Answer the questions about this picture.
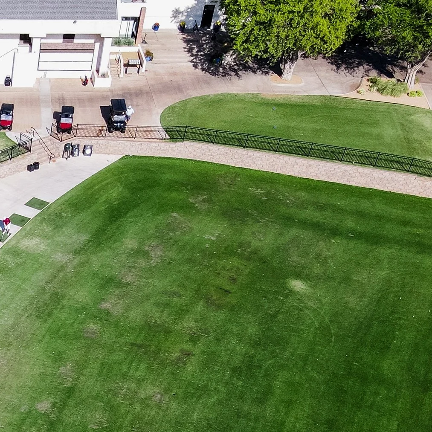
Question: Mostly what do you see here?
grass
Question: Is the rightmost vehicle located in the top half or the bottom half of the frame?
top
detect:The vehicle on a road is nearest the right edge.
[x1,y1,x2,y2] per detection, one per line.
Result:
[104,97,124,127]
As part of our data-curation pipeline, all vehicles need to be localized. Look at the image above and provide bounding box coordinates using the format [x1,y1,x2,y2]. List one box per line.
[104,97,124,127]
[0,103,11,129]
[55,105,71,132]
